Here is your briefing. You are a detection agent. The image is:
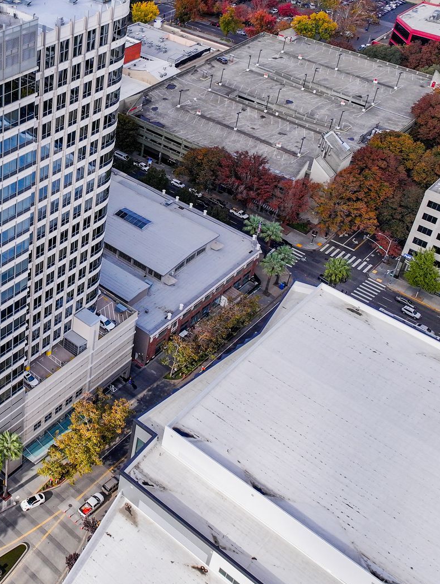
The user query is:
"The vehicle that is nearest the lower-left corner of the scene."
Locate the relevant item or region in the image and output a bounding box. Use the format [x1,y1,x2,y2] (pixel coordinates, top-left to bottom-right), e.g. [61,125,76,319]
[22,492,44,515]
